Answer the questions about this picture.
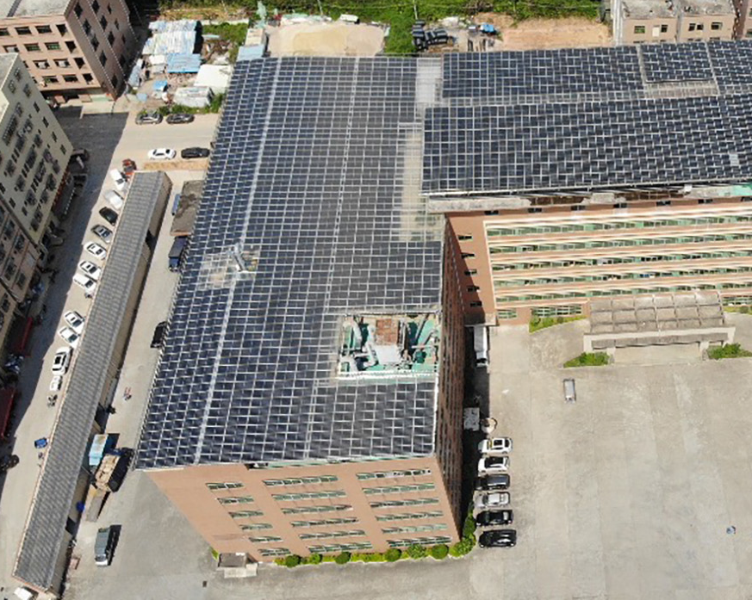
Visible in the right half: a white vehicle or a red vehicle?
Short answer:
white vehicle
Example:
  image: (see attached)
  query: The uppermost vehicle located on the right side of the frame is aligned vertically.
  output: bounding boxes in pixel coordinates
[473,326,488,365]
